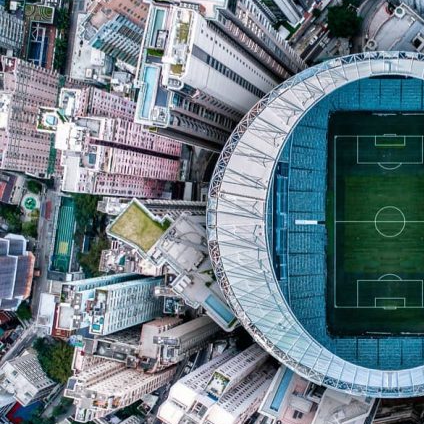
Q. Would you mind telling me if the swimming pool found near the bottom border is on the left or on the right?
right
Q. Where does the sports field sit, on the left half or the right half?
right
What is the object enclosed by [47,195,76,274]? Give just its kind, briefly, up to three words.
sports court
